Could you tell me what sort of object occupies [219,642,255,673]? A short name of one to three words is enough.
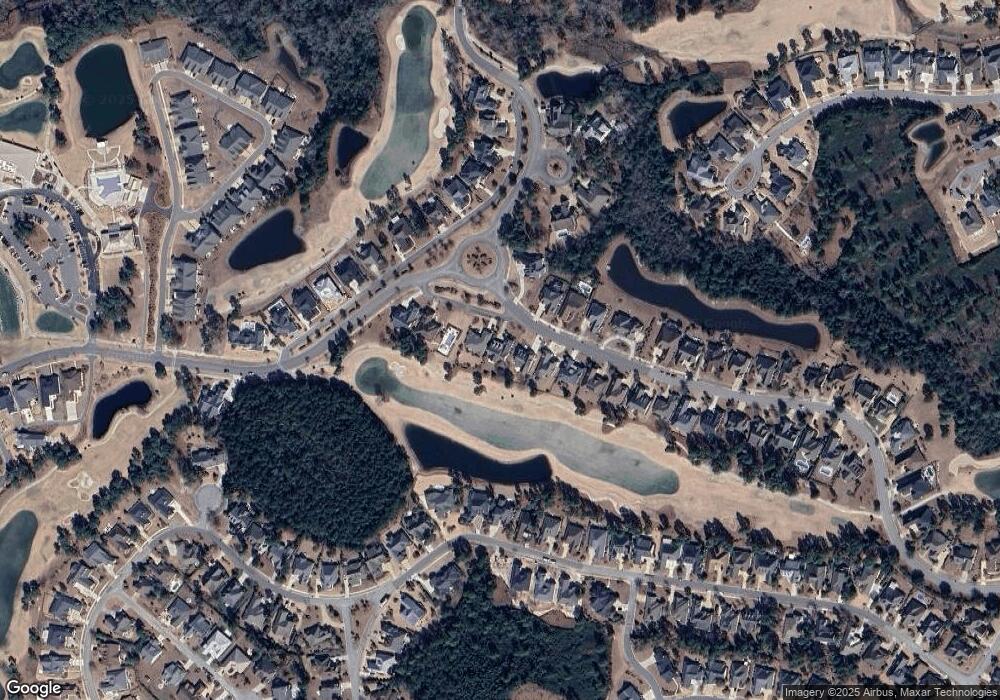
house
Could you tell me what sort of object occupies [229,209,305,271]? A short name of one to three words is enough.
pond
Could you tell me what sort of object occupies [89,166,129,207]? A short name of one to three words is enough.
swimming pool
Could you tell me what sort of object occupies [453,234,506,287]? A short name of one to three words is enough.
roundabout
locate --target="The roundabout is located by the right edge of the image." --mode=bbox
[950,158,1000,197]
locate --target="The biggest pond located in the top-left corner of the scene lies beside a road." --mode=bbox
[75,44,140,138]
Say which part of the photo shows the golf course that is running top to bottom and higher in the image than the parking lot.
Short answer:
top left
